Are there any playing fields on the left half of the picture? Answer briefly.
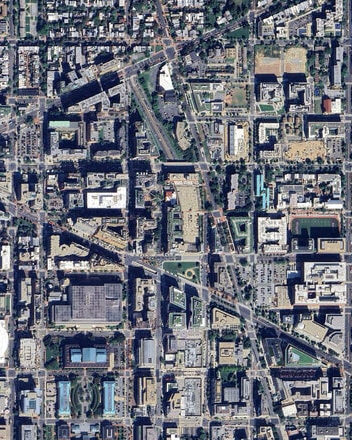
No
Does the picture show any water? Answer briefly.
No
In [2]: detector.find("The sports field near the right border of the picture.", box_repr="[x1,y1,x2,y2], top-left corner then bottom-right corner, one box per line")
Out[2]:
[289,215,339,253]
